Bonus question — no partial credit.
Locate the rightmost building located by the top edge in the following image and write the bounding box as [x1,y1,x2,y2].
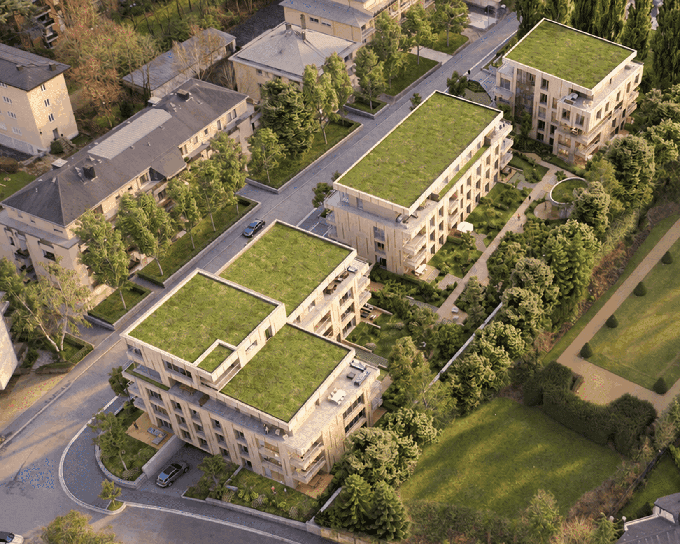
[491,19,645,172]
